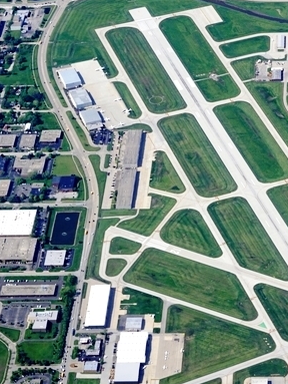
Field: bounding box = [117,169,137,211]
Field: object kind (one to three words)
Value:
hangar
